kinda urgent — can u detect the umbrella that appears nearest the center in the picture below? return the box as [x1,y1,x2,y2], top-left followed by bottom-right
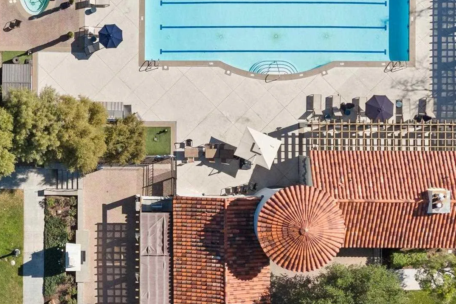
[234,127,281,172]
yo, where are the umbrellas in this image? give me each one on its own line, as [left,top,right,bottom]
[365,95,393,122]
[98,25,122,48]
[234,127,281,172]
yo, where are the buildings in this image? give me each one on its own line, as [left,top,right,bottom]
[2,63,34,109]
[173,150,456,304]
